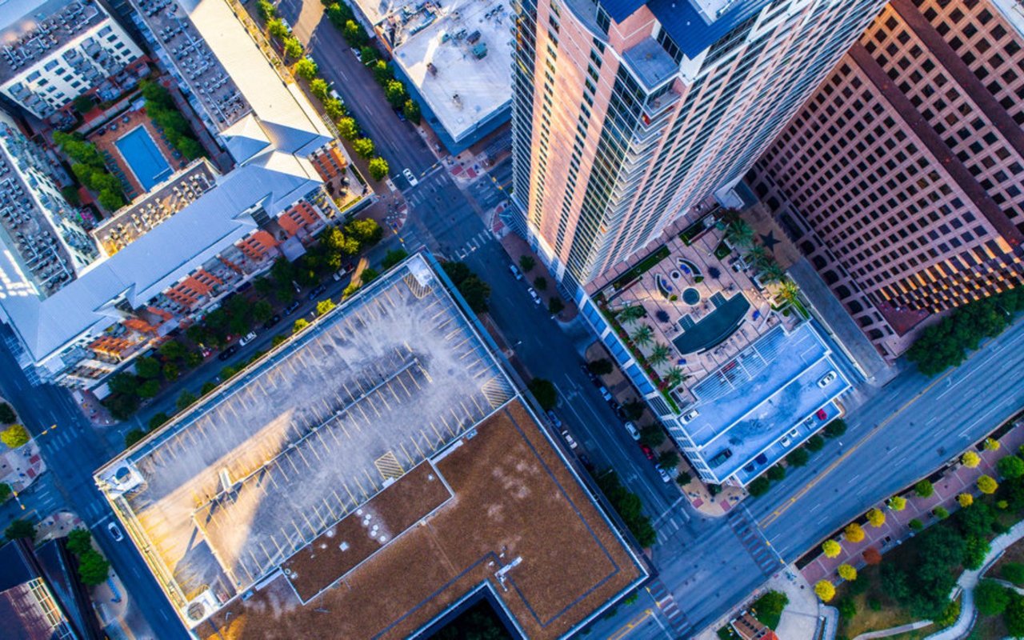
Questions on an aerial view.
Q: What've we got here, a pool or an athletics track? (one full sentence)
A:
The one in the frame is a pool.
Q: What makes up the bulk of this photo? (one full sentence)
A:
The largest share of the image is taken up by buildings.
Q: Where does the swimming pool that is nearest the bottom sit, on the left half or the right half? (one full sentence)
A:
The swimming pool that is nearest the bottom appears in the right half of the scene.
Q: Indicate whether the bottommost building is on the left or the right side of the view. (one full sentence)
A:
You can find the bottommost building on the right side of the picture.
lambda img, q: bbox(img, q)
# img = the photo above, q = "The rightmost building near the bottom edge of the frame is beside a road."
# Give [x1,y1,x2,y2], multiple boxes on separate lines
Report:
[728,610,777,640]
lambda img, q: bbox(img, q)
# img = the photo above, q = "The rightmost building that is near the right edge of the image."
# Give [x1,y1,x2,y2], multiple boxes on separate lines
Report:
[742,0,1024,362]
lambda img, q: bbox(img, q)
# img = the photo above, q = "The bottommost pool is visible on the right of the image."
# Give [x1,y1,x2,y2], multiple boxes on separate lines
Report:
[672,291,751,354]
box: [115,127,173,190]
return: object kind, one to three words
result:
swimming pool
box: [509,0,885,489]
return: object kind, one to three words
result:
building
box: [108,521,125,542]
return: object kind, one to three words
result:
car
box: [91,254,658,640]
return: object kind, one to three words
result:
building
